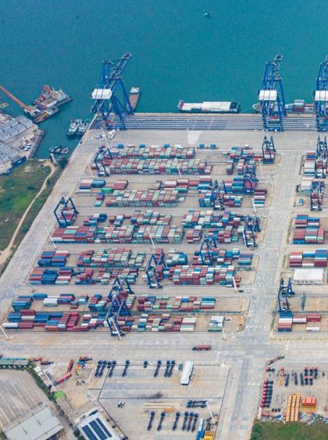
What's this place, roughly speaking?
port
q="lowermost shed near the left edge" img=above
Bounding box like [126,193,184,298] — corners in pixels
[3,402,66,440]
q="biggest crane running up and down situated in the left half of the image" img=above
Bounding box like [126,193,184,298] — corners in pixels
[96,56,132,131]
